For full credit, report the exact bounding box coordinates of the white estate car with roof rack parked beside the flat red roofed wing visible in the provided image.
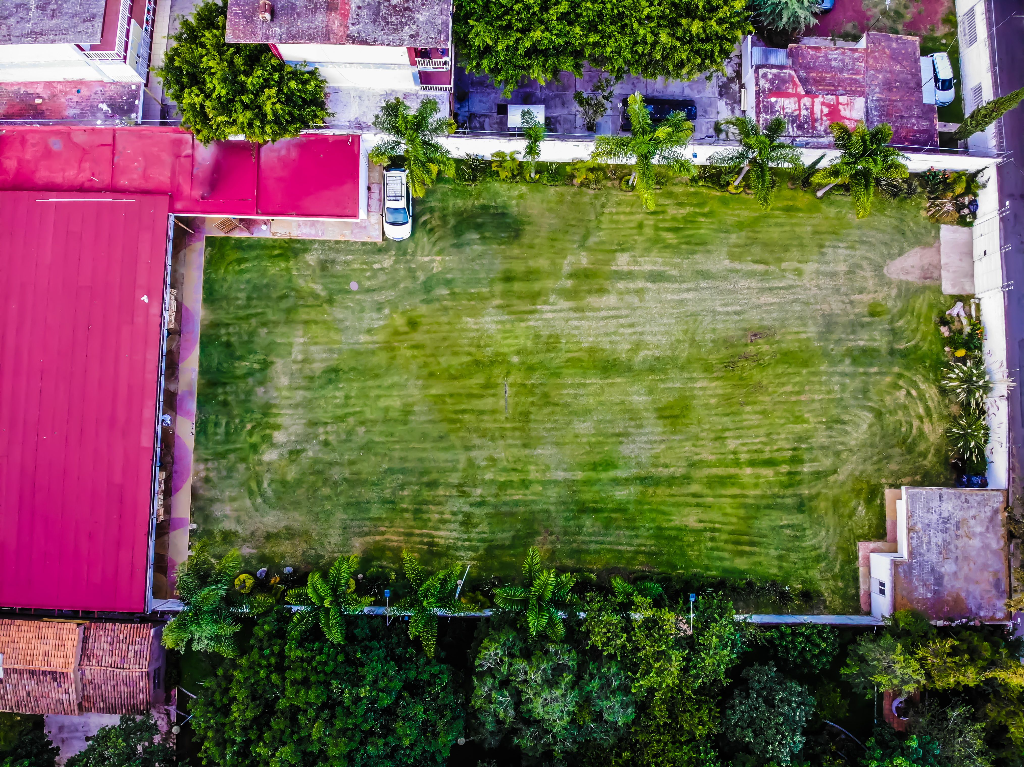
[377,164,413,238]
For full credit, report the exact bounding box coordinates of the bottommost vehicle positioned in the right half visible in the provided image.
[932,47,969,105]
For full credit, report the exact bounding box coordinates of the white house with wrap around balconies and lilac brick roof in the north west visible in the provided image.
[0,0,160,125]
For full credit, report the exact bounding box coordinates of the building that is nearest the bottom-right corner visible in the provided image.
[871,485,1015,624]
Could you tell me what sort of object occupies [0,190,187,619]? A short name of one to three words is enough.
building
